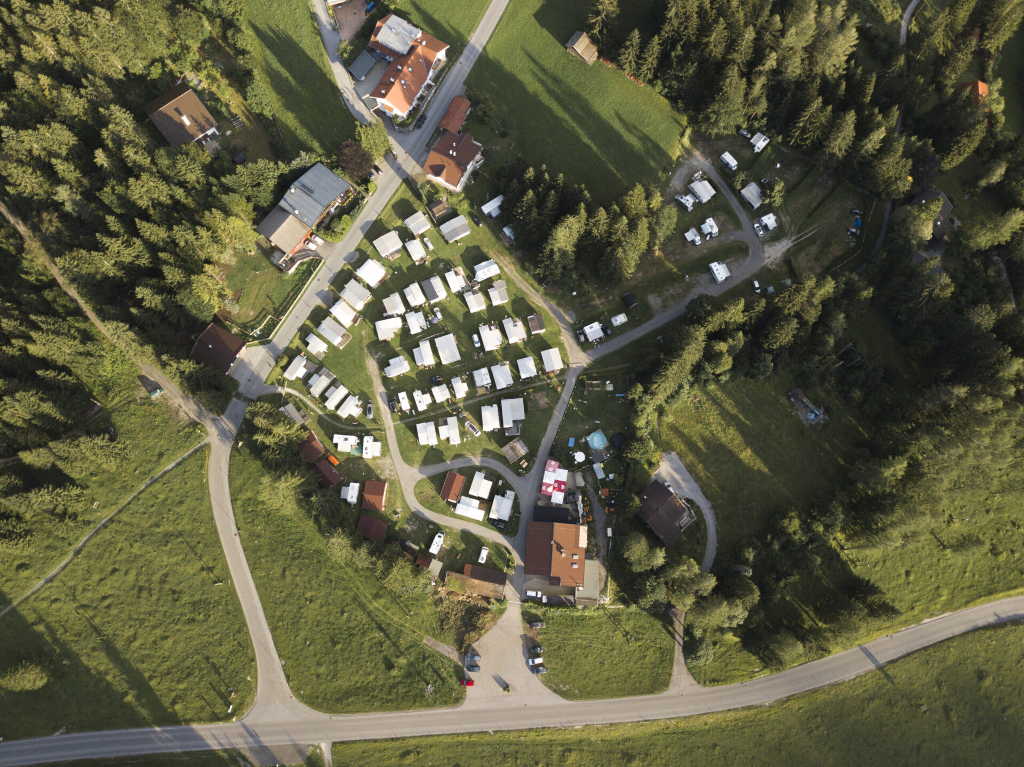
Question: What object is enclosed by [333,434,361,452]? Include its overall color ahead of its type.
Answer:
white camper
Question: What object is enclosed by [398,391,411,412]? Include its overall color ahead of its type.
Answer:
white vehicle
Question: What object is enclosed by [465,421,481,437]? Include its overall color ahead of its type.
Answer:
white vehicle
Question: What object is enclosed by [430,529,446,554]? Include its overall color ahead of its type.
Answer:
white camper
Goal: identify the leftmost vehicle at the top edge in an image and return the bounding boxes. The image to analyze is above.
[364,1,377,14]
